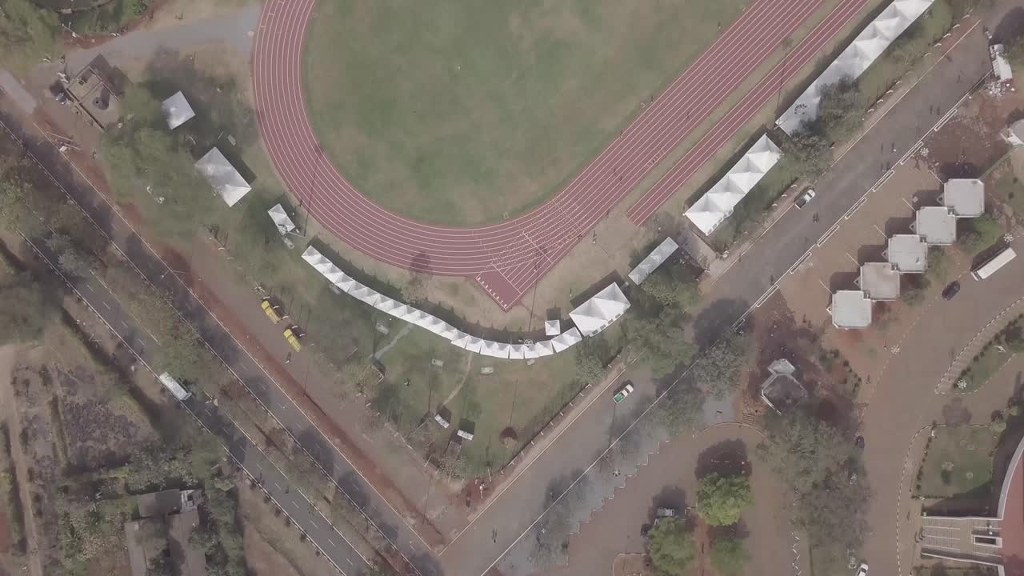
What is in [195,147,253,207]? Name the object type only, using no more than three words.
tent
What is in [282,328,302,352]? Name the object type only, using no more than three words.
vehicle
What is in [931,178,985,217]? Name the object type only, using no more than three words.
house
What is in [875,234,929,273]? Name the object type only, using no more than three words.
house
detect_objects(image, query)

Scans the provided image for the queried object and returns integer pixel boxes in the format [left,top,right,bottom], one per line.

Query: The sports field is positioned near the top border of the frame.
[302,0,754,226]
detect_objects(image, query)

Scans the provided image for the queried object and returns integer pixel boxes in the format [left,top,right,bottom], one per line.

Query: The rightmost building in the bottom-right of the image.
[922,407,1024,576]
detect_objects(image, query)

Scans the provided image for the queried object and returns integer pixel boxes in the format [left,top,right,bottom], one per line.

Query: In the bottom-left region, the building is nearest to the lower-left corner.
[124,520,152,576]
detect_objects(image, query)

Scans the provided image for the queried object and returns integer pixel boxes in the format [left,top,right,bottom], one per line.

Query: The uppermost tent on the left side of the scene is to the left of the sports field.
[161,92,200,128]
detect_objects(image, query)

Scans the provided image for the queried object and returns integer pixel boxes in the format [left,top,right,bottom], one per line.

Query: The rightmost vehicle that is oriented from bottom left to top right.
[972,248,1018,282]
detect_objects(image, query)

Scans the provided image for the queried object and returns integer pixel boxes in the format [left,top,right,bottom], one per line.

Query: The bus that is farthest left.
[159,371,191,402]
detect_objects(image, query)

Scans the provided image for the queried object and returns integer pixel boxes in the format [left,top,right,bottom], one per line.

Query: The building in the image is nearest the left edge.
[66,65,128,135]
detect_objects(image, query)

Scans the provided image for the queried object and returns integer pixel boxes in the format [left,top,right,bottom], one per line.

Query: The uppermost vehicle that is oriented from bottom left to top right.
[794,188,816,210]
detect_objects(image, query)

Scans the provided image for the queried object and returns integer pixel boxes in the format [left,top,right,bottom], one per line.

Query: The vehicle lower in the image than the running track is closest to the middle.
[612,383,634,405]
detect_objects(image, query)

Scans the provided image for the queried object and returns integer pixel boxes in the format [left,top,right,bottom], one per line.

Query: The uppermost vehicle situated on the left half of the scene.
[260,300,280,323]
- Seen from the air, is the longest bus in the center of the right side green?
No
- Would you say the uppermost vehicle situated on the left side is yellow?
Yes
